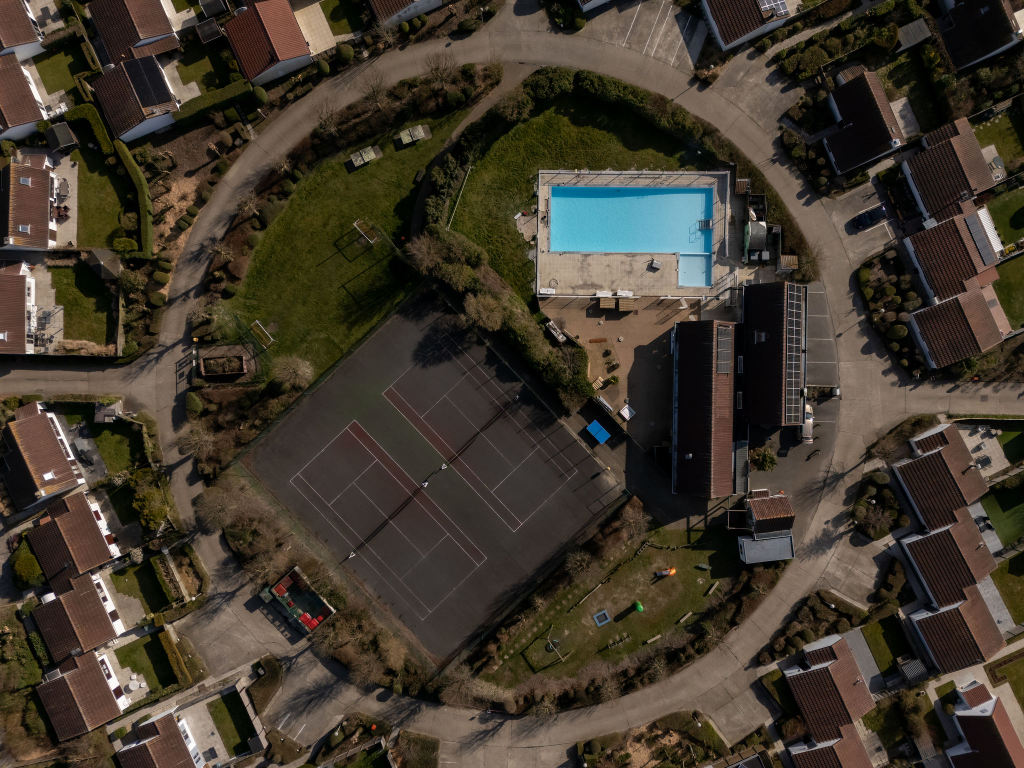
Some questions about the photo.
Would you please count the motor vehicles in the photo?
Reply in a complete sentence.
There are 2 motor vehicles in the image.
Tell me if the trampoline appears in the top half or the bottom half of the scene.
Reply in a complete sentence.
It is in the bottom half that the trampoline appears.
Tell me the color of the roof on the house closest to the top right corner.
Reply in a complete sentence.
The roof of the house closest to the top right corner is black.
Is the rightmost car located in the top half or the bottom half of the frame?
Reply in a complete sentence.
The rightmost car sits in the top half of the picture.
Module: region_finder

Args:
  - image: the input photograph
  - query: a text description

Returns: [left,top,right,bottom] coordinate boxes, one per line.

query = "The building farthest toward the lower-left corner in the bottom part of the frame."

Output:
[36,644,131,741]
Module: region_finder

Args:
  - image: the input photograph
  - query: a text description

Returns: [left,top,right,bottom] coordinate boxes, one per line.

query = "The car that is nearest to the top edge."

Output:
[850,205,888,231]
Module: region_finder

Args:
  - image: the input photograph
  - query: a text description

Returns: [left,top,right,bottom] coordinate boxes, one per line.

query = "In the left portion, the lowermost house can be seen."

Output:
[120,705,209,768]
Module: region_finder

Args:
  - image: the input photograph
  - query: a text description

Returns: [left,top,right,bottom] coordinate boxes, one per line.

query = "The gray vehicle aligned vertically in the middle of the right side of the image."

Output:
[799,405,819,443]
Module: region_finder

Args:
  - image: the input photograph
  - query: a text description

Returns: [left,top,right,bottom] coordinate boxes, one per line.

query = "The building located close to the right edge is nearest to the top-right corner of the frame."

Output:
[929,0,1023,71]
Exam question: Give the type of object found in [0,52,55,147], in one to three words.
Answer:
house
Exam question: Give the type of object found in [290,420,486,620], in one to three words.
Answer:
tennis court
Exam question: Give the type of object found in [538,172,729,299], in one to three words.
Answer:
swimming pool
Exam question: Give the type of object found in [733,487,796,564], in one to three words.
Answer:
building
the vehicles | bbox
[799,405,819,443]
[850,205,888,231]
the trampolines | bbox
[592,608,613,629]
